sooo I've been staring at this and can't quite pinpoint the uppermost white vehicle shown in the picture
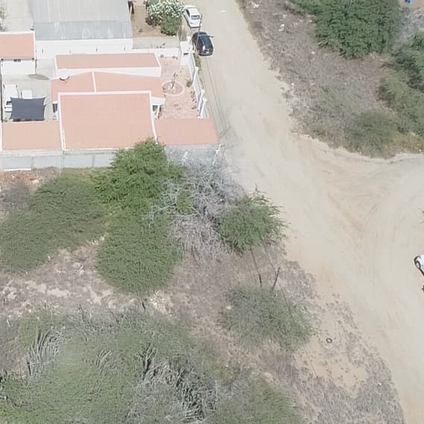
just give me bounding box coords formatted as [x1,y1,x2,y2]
[183,6,202,30]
